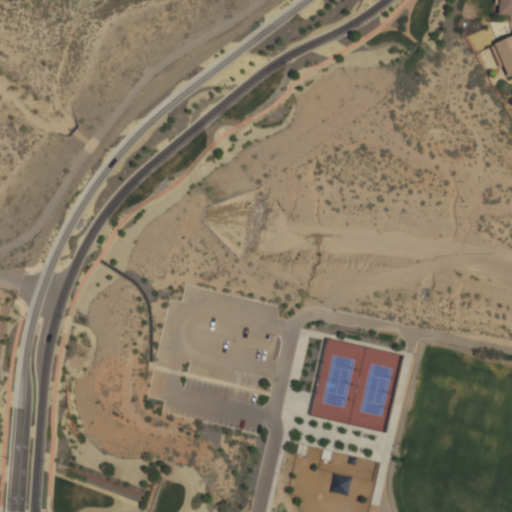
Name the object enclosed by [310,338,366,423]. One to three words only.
tennis court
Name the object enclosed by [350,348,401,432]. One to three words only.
tennis court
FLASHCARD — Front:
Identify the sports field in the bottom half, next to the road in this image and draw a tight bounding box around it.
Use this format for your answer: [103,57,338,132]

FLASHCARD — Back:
[394,346,512,512]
